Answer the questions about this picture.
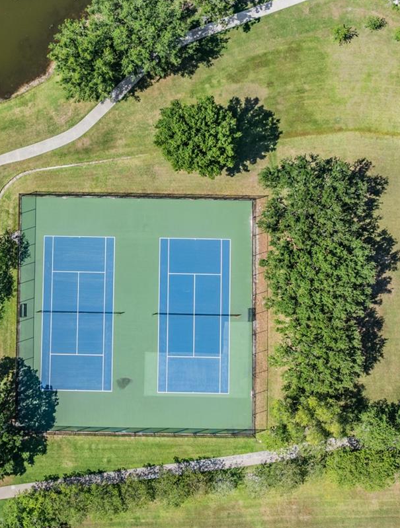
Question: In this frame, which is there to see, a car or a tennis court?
tennis court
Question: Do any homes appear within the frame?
No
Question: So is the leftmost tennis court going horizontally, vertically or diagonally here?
vertically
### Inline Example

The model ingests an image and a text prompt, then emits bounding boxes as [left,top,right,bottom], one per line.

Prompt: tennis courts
[155,238,239,395]
[40,236,115,392]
